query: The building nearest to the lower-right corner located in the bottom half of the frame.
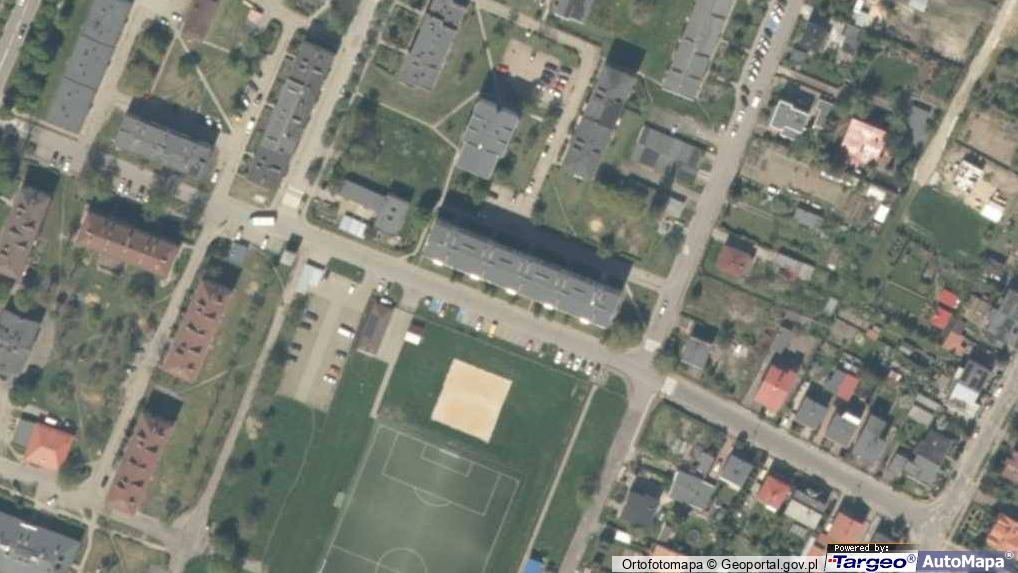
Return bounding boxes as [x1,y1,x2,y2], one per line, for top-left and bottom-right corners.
[987,513,1018,552]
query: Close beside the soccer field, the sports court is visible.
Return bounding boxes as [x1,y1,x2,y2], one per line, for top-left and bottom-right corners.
[432,359,513,443]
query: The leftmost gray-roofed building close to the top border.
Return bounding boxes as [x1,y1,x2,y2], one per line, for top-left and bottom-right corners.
[46,0,136,137]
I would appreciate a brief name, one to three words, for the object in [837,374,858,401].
shed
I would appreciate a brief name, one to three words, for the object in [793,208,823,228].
barn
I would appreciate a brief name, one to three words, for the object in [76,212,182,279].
building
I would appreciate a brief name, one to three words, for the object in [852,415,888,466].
house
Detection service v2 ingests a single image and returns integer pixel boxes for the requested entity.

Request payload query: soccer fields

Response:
[315,420,524,573]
